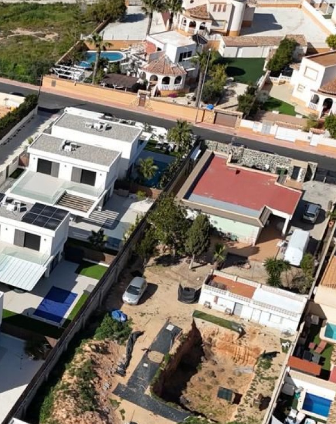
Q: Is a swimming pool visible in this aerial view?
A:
Yes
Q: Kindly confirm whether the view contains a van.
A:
Yes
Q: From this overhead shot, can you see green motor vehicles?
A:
No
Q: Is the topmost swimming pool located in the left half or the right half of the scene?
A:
left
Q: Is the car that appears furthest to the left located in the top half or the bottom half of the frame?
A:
bottom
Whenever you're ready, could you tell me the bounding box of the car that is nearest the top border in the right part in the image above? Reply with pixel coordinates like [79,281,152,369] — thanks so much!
[302,200,322,222]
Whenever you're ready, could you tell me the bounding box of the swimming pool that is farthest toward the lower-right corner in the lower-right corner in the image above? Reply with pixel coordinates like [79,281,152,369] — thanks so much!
[298,392,336,415]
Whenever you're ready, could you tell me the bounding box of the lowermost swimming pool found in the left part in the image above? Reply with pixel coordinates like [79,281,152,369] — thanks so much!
[29,283,81,326]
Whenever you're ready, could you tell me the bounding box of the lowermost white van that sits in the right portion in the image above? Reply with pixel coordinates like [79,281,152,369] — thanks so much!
[285,224,315,264]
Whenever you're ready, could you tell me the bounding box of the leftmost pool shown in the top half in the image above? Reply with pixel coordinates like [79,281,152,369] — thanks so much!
[73,50,128,70]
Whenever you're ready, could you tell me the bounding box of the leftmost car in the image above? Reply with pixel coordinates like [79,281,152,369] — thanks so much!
[122,275,147,301]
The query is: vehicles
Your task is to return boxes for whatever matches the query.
[122,275,147,301]
[302,200,322,222]
[285,224,315,264]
